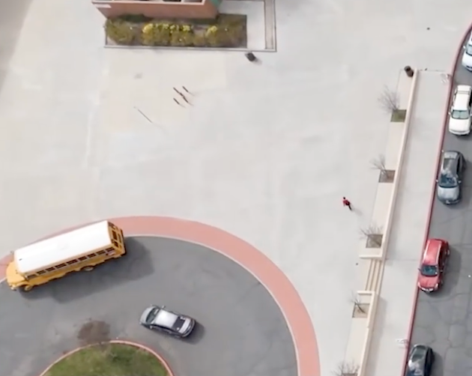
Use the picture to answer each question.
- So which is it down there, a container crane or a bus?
bus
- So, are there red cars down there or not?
Yes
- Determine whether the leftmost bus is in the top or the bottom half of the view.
bottom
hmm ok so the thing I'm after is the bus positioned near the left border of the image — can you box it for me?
[11,223,125,289]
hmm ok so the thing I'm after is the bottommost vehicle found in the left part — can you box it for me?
[143,307,196,337]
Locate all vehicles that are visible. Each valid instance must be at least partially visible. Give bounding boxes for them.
[418,238,449,293]
[11,223,125,289]
[408,346,435,376]
[143,307,196,337]
[447,82,472,136]
[464,33,472,69]
[437,152,463,203]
